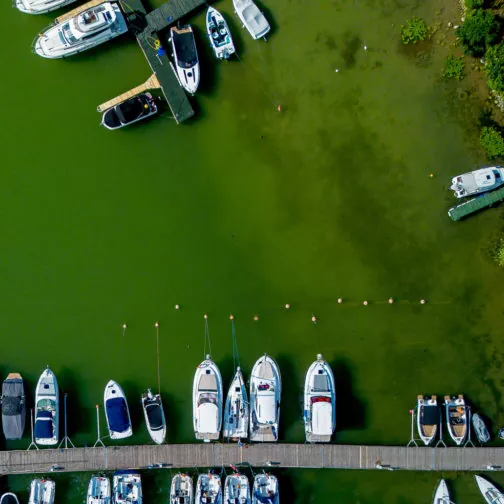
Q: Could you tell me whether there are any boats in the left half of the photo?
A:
Yes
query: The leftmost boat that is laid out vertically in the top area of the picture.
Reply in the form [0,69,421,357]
[170,22,200,98]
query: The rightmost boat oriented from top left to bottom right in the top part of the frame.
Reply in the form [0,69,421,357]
[234,0,270,41]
